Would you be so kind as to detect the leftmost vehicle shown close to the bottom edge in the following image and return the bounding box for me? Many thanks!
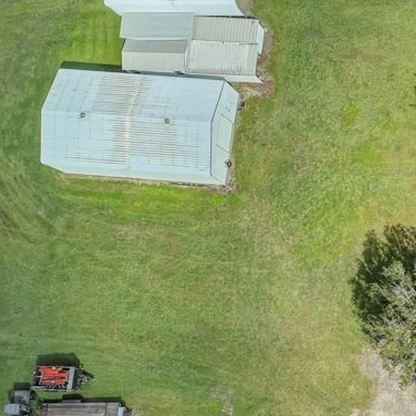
[4,385,41,416]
